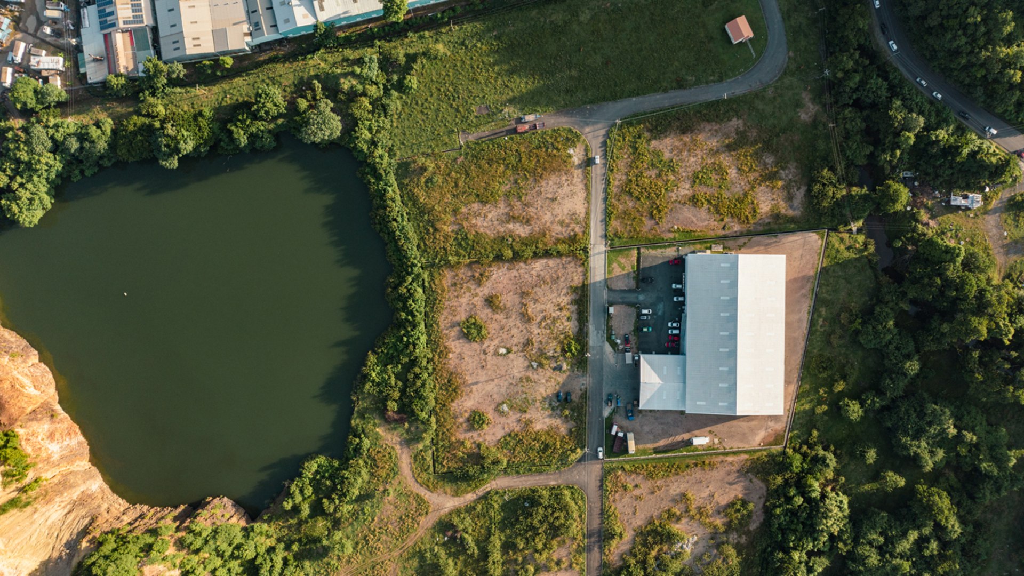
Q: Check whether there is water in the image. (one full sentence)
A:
Yes, some water is visible.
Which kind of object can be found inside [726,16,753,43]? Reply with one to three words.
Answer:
shed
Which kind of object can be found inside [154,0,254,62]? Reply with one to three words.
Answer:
building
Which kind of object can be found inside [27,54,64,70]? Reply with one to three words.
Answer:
vehicle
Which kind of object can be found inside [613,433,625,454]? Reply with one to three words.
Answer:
vehicle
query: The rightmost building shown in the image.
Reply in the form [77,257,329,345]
[951,191,985,209]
